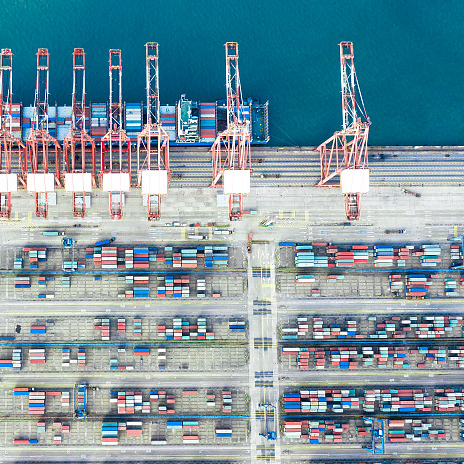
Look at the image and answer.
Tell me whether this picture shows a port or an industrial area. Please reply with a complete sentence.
What you see here is a port.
